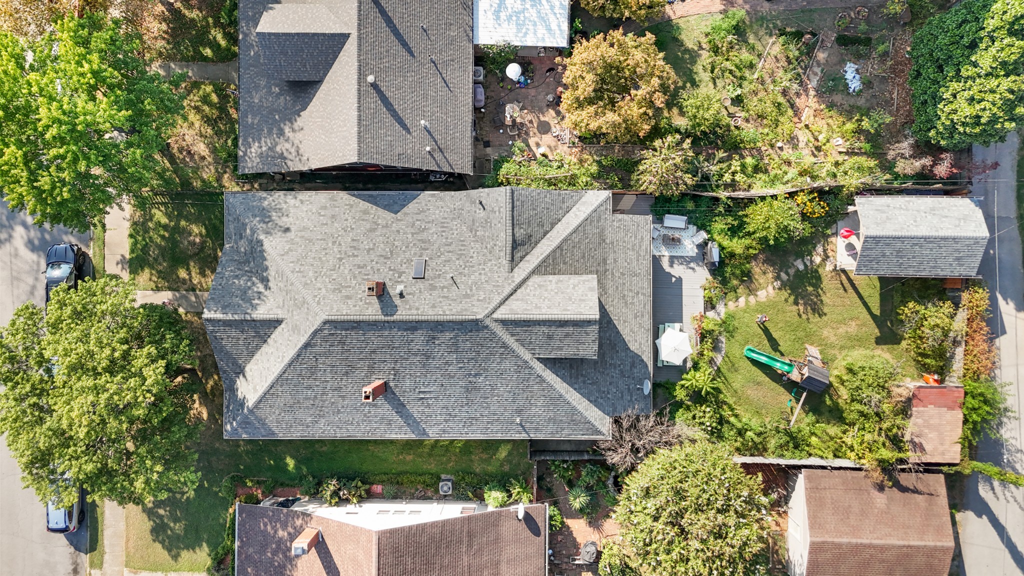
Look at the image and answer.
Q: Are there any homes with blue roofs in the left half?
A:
No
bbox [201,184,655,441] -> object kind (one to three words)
house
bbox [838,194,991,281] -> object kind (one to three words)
shed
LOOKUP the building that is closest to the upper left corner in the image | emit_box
[236,0,476,178]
